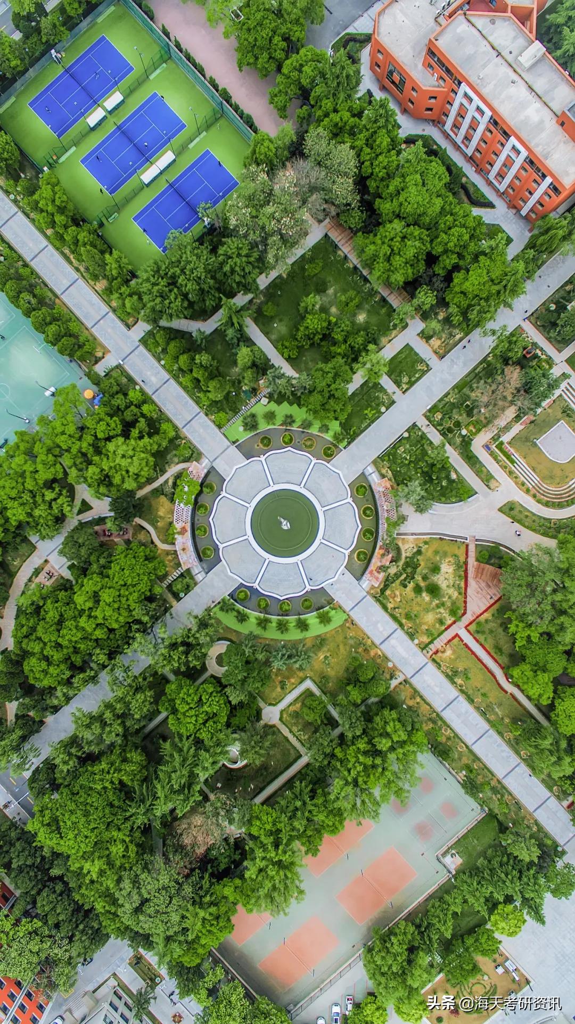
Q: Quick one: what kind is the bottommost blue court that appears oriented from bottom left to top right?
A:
tennis court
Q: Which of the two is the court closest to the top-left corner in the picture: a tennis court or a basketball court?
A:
tennis court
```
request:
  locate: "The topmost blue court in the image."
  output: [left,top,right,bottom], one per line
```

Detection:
[28,34,134,138]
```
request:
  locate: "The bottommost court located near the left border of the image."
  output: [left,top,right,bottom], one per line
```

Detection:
[0,281,116,498]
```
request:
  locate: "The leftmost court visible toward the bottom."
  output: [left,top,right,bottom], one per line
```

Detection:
[229,895,271,947]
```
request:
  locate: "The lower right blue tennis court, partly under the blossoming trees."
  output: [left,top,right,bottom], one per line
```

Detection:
[133,150,235,253]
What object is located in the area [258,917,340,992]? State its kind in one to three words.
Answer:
sports court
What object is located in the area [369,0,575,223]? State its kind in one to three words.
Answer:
building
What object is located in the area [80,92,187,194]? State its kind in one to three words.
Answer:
tennis court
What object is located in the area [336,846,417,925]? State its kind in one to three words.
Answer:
sports court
